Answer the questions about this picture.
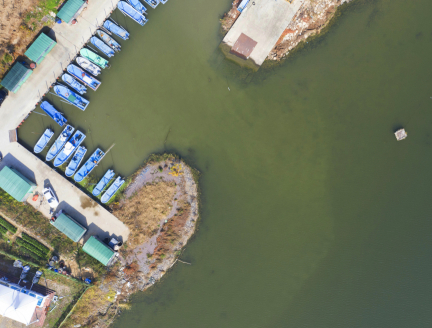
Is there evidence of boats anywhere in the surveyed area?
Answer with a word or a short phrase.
Yes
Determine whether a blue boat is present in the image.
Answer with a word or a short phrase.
Yes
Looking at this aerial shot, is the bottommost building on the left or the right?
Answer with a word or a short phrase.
left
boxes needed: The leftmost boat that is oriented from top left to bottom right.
[38,101,71,129]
